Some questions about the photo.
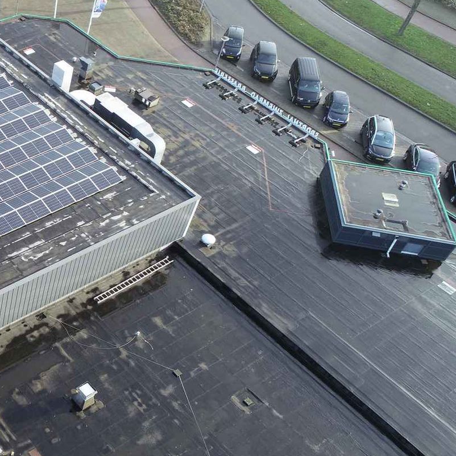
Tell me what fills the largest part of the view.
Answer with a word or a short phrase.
buildings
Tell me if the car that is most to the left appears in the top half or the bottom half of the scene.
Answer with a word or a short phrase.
top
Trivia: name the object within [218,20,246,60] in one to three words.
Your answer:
car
